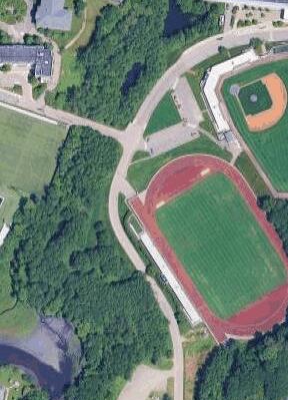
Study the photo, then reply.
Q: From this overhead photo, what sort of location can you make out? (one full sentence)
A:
This image shows a sports ground.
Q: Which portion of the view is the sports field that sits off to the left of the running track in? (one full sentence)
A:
You can find the sports field that sits off to the left of the running track in the left area of the picture.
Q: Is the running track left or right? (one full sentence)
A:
The running track sits on the right side.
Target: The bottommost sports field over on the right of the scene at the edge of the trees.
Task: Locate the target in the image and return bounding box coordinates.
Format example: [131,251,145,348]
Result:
[155,174,288,321]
